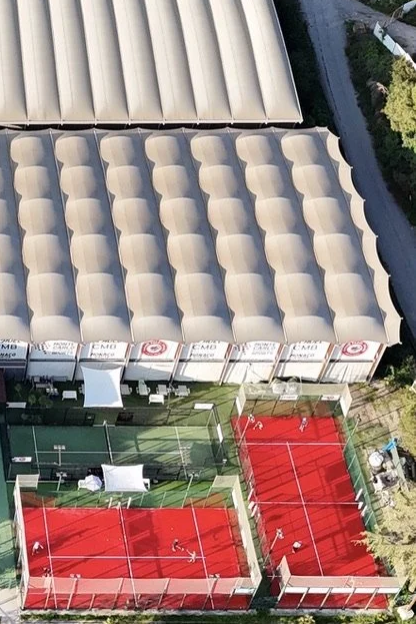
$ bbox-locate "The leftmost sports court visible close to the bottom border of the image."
[14,476,265,619]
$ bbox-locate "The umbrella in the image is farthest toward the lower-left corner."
[76,470,103,496]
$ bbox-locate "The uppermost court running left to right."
[5,403,231,481]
